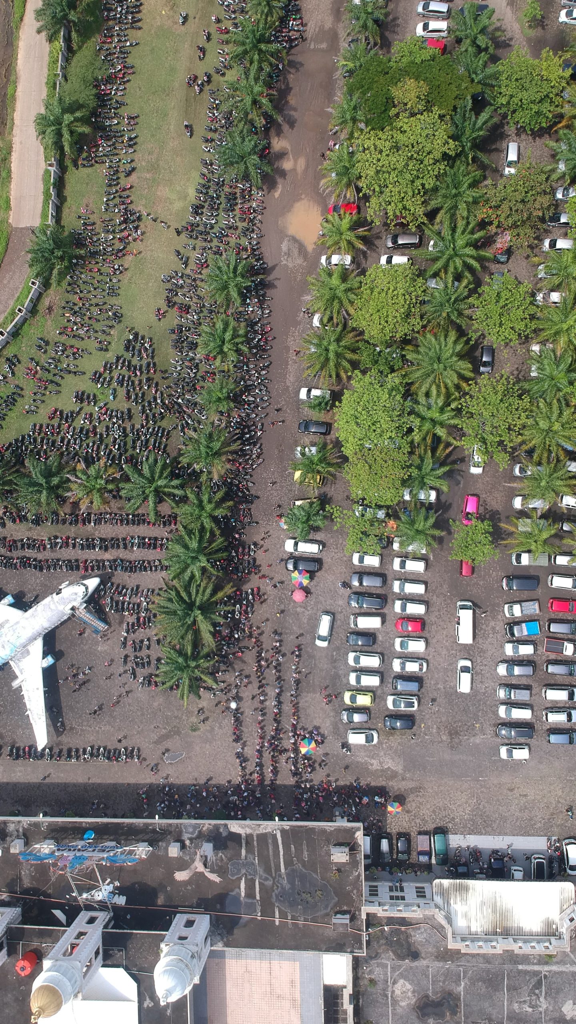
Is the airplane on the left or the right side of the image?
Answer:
left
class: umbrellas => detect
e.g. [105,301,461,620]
[280,516,290,529]
[300,737,317,754]
[292,569,310,587]
[293,589,306,602]
[387,799,402,815]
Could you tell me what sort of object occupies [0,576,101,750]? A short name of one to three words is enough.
airplane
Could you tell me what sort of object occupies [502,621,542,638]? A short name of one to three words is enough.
vehicle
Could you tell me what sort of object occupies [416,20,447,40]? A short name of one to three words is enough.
car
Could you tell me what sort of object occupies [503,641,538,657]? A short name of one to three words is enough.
car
